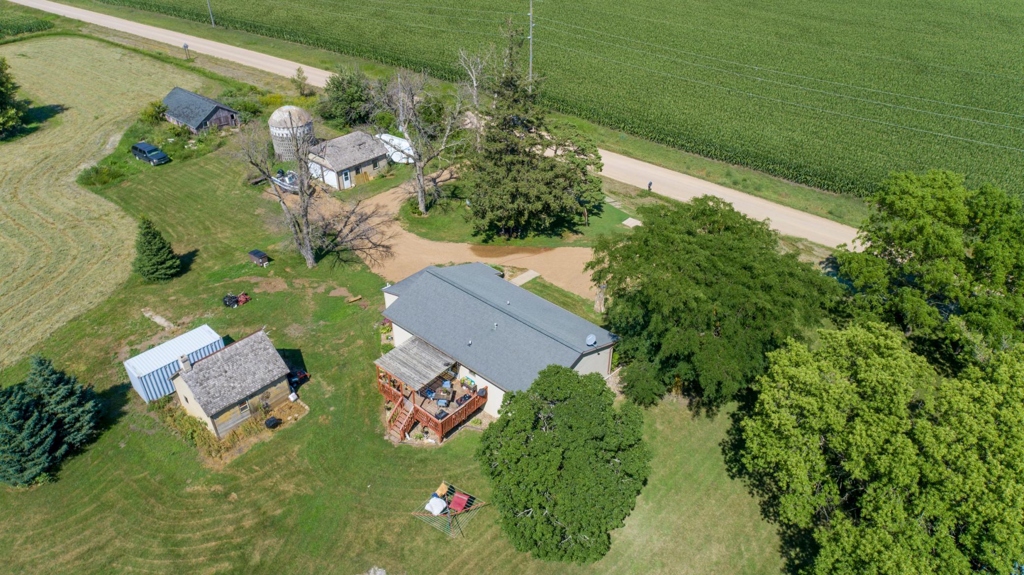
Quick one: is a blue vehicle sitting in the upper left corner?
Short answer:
Yes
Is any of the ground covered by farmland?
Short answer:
Yes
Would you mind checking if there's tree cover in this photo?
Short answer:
Yes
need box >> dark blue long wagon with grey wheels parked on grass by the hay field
[129,139,171,165]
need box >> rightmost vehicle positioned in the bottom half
[288,370,307,386]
